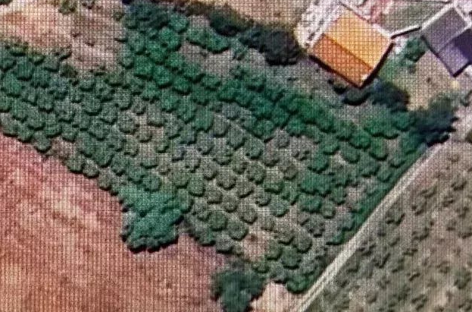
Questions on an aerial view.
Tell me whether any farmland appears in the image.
Yes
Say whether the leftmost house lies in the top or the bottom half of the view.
top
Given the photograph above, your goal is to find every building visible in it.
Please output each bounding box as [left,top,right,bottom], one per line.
[310,0,392,87]
[421,0,472,76]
